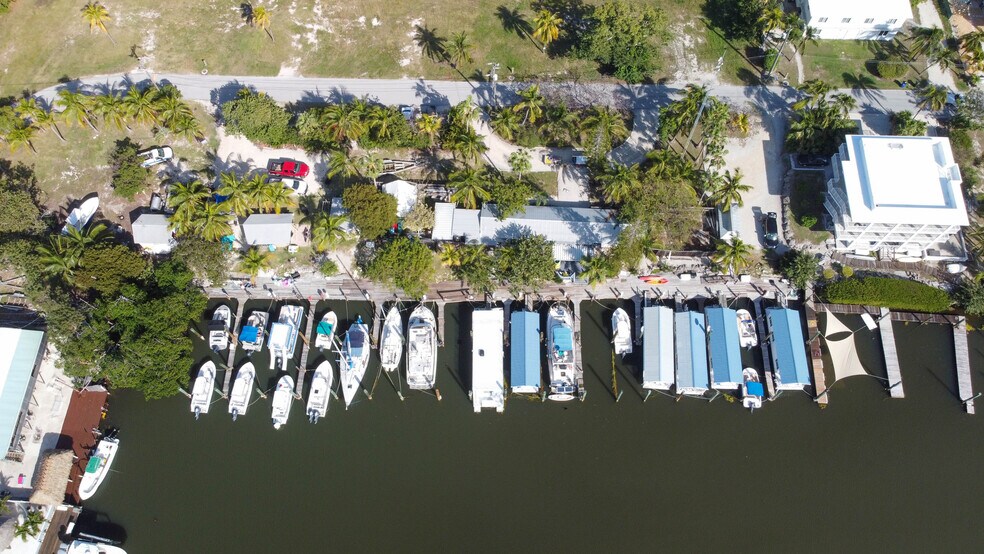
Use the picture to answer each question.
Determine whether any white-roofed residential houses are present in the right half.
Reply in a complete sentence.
Yes, a white-roofed residential house is visible in the right half.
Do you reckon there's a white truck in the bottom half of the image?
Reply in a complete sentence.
No, there is no white truck in the bottom half of the image.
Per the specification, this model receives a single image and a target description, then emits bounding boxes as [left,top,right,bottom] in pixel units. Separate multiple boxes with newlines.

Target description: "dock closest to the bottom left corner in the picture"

[41,507,83,554]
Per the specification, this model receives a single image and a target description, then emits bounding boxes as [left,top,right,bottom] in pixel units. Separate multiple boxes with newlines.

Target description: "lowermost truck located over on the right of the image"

[758,211,782,252]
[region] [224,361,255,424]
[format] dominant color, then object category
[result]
white boat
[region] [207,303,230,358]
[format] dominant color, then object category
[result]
white boat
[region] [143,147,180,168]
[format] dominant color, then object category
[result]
white truck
